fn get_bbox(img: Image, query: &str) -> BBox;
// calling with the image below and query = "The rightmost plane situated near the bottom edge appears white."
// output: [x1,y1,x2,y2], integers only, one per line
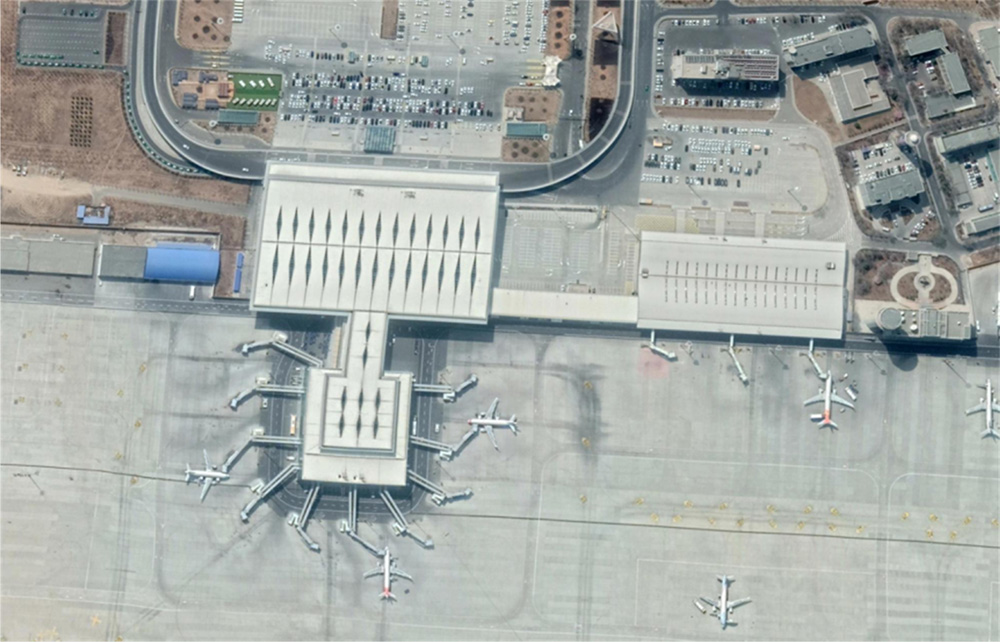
[699,575,750,630]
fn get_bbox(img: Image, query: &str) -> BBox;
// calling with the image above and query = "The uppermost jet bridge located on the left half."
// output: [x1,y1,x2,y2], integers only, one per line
[241,331,326,368]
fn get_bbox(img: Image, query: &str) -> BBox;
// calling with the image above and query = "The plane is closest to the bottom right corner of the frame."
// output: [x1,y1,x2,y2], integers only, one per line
[965,380,1000,437]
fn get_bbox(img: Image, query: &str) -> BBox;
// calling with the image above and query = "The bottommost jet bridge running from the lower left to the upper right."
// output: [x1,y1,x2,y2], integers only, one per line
[238,461,300,523]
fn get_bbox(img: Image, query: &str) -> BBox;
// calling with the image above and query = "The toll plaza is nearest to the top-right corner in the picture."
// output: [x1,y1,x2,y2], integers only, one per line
[542,55,562,86]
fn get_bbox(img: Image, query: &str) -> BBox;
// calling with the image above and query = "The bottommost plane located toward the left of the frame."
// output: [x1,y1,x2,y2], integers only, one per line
[362,547,412,600]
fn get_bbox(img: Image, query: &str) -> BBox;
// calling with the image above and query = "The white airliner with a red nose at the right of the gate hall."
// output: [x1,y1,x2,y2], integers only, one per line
[468,398,521,448]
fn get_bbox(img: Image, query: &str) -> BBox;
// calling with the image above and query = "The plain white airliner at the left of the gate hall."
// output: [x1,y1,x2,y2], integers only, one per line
[184,448,230,498]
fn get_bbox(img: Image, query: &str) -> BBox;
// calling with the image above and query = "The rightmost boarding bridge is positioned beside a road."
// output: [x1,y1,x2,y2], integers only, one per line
[807,338,827,381]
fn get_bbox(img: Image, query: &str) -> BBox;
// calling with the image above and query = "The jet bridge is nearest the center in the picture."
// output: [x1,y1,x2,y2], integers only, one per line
[411,374,479,404]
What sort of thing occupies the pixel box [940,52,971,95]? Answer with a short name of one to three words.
building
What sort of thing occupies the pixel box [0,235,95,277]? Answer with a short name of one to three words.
hangar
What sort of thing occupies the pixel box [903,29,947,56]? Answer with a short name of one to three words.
building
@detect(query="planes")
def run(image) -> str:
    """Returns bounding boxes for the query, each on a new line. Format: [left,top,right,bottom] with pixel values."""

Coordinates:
[804,371,854,428]
[699,575,750,630]
[184,448,230,498]
[965,380,1000,437]
[362,547,412,600]
[468,398,521,448]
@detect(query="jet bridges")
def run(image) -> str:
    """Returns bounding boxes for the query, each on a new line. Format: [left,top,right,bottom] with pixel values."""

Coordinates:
[648,329,677,360]
[411,374,479,404]
[406,468,474,506]
[238,461,300,523]
[338,486,385,557]
[241,331,326,368]
[727,333,748,384]
[221,426,302,474]
[408,423,479,462]
[229,375,305,408]
[286,484,322,551]
[378,487,435,547]
[807,338,827,381]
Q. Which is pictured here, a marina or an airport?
airport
